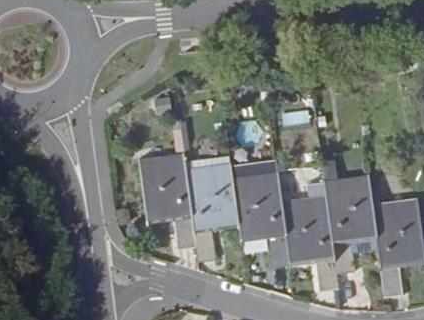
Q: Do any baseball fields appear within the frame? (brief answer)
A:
No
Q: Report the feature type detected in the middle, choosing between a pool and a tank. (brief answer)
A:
pool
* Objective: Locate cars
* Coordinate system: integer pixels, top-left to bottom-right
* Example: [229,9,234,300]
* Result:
[344,281,354,300]
[220,281,242,294]
[275,266,286,287]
